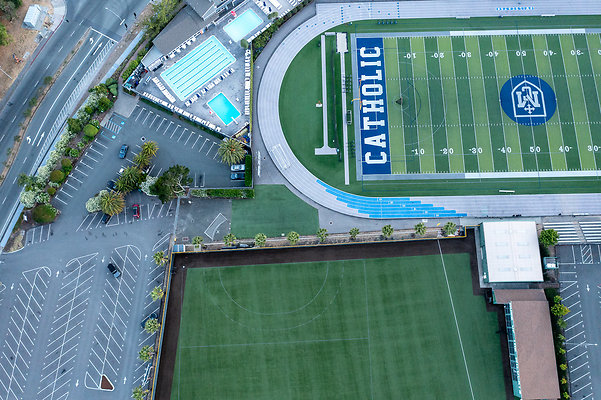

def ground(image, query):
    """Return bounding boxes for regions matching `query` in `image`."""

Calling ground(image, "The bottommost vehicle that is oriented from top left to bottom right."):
[106,260,121,279]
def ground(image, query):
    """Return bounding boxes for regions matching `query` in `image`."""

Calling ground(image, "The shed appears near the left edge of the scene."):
[25,5,45,31]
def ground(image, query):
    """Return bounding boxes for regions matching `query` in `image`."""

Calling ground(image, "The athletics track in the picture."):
[256,0,601,219]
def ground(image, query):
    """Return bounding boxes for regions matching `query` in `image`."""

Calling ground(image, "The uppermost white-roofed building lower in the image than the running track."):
[480,221,543,283]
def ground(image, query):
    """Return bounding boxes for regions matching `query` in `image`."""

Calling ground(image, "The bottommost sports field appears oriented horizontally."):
[154,227,515,400]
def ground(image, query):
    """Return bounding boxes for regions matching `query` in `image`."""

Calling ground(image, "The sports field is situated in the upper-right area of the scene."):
[350,21,601,188]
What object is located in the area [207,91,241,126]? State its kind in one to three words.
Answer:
swimming pool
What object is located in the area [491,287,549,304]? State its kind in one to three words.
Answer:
shed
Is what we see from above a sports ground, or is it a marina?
sports ground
